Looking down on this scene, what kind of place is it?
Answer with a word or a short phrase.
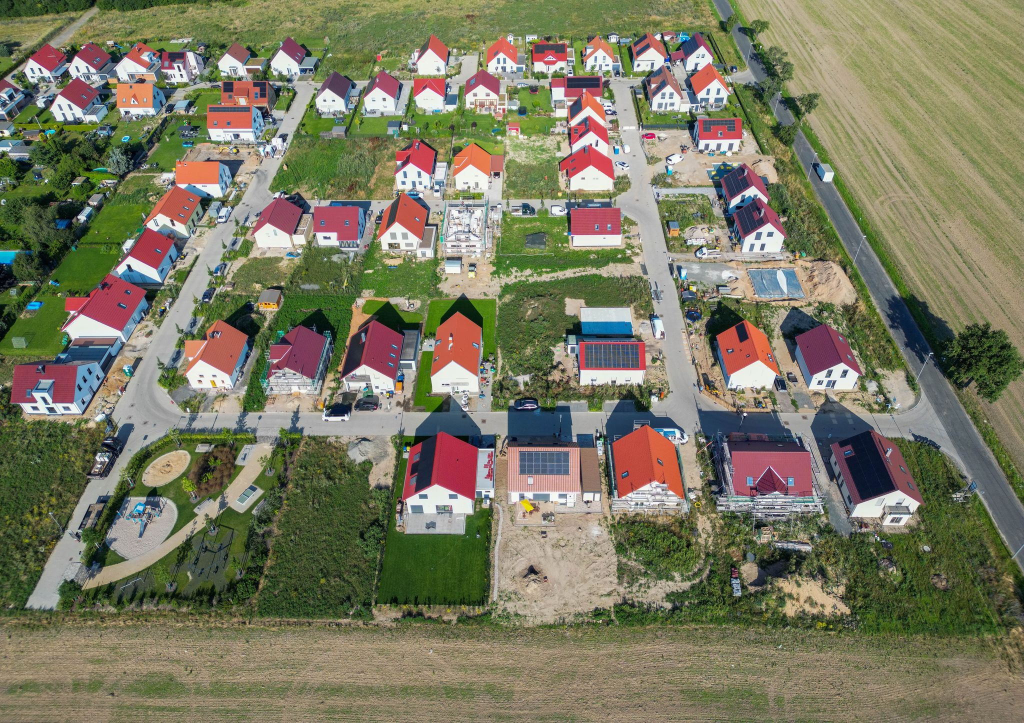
residential area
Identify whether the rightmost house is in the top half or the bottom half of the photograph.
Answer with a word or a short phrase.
bottom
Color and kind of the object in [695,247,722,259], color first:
white vehicle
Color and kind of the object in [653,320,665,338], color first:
white vehicle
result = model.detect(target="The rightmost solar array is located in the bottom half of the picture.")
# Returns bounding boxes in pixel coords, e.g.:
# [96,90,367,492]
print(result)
[839,432,891,499]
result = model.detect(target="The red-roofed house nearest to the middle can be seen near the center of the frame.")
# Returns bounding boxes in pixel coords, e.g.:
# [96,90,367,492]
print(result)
[428,312,483,392]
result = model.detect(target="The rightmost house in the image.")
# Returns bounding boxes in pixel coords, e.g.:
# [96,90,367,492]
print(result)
[830,431,922,525]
